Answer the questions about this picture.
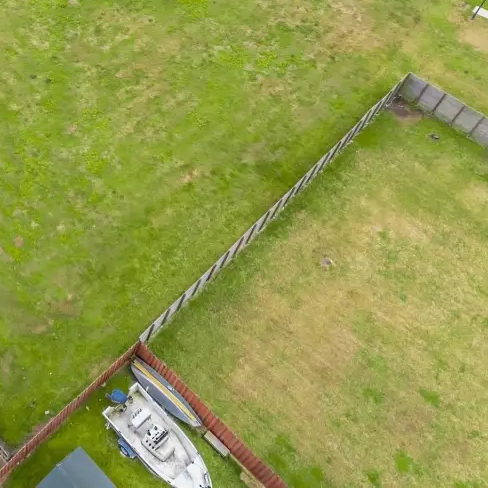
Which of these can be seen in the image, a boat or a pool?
boat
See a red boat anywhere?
No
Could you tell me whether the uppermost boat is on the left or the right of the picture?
left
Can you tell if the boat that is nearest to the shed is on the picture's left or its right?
left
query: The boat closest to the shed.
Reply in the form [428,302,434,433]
[101,380,215,488]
